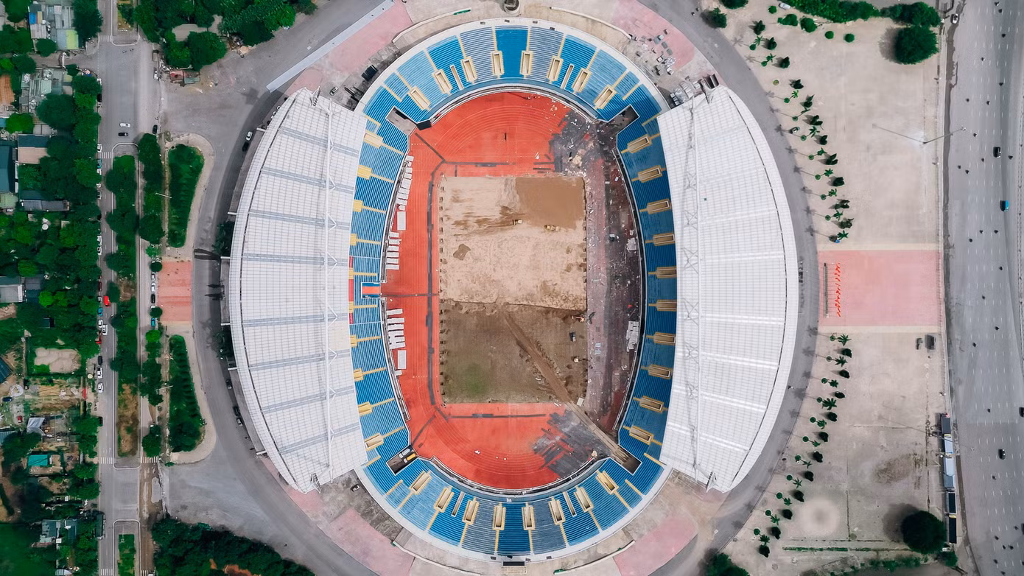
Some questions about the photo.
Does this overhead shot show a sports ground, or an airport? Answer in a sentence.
This looks like a sports ground.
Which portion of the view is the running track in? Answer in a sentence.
Look in the center portion of the view to spot the running track.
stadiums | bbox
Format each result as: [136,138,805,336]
[221,17,798,563]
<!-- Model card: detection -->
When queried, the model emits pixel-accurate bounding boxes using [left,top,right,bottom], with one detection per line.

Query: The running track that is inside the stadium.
[386,91,640,488]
